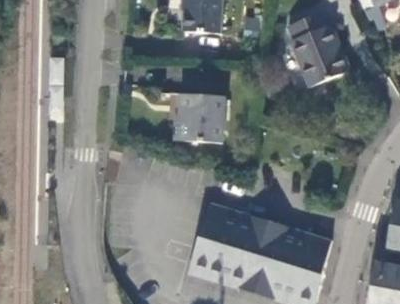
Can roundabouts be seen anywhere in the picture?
No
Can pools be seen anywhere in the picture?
No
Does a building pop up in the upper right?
Yes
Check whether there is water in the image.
No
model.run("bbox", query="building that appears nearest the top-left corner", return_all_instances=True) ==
[49,58,66,86]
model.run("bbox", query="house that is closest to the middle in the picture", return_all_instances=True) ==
[173,94,228,144]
